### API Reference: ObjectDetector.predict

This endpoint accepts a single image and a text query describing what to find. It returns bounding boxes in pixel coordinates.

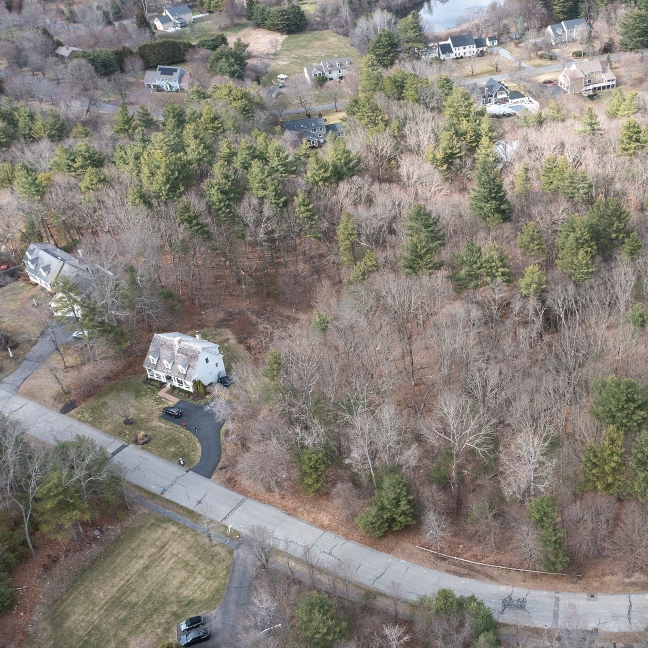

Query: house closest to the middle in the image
[143,330,232,389]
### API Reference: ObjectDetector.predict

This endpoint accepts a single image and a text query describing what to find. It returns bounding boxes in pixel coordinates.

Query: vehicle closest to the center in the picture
[159,405,182,418]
